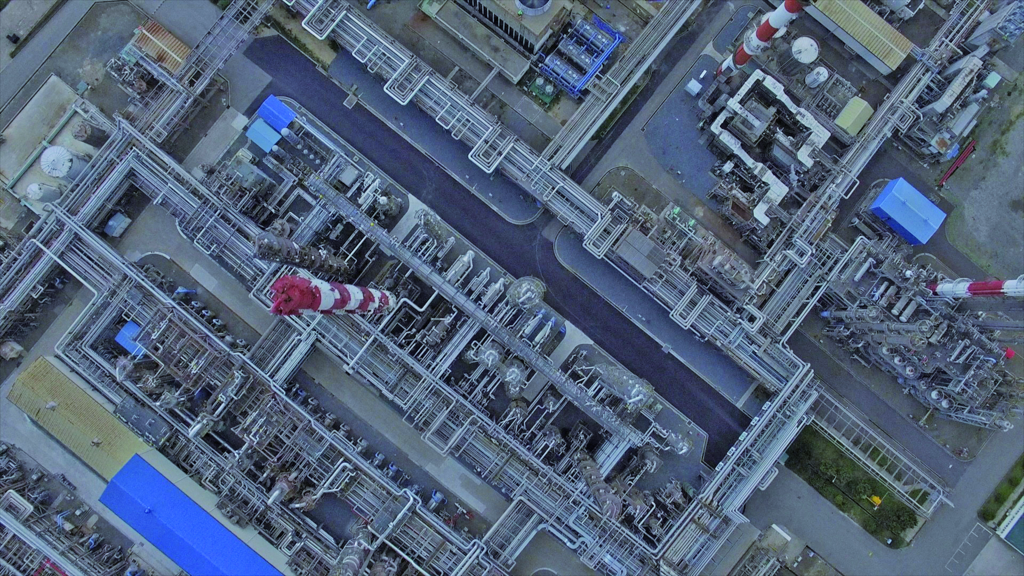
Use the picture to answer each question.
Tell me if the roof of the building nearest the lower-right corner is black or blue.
blue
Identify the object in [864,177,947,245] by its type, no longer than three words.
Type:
building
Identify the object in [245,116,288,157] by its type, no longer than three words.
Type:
shed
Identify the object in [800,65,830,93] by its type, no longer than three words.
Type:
storage tank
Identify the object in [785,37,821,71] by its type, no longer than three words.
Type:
storage tank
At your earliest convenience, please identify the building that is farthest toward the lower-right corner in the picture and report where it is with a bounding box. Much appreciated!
[991,519,1024,562]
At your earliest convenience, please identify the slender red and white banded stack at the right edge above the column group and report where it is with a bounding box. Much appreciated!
[924,278,1024,301]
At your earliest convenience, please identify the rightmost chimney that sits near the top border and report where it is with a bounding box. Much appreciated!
[710,0,810,79]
